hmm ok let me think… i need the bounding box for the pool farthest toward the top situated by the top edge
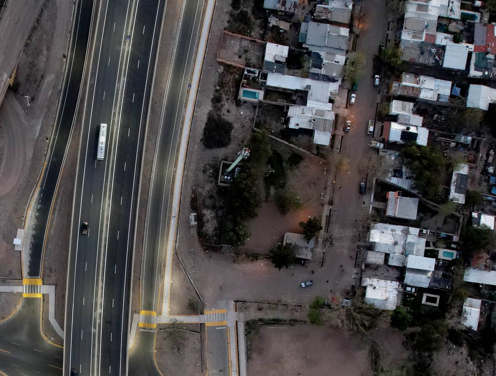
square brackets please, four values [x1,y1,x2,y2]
[460,9,480,22]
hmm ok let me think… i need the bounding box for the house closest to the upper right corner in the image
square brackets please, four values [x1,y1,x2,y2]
[468,24,496,55]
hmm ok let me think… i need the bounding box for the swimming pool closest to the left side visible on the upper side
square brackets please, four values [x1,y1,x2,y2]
[238,87,263,100]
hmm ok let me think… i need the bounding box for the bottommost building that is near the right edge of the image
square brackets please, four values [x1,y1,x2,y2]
[457,297,482,328]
